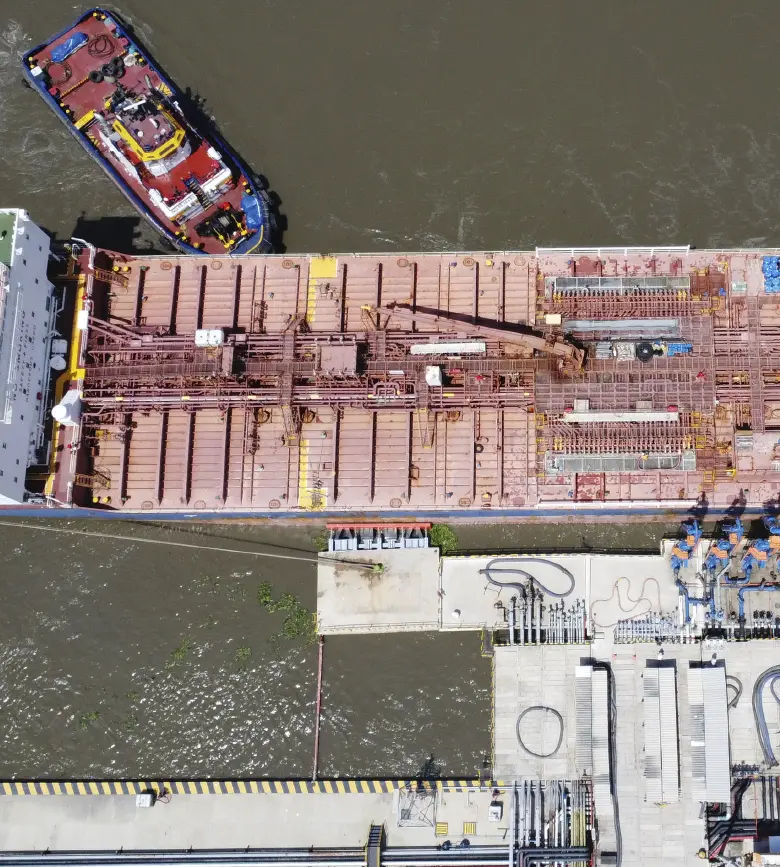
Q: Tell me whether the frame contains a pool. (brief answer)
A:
No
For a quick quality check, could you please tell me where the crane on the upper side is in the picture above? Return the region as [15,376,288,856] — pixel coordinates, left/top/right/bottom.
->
[373,301,586,378]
